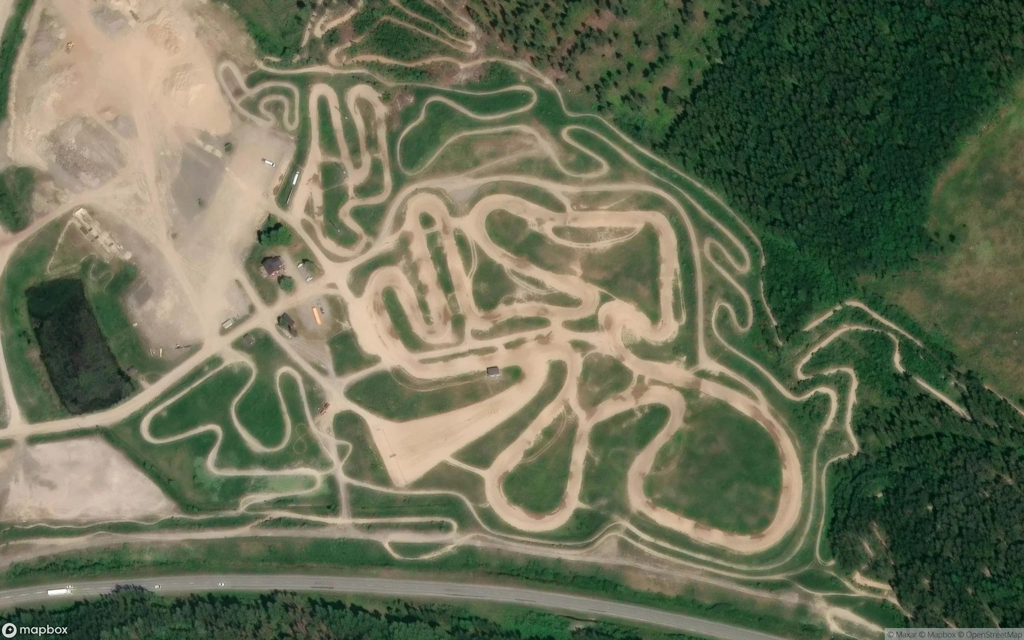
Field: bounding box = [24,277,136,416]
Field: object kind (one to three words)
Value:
pond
